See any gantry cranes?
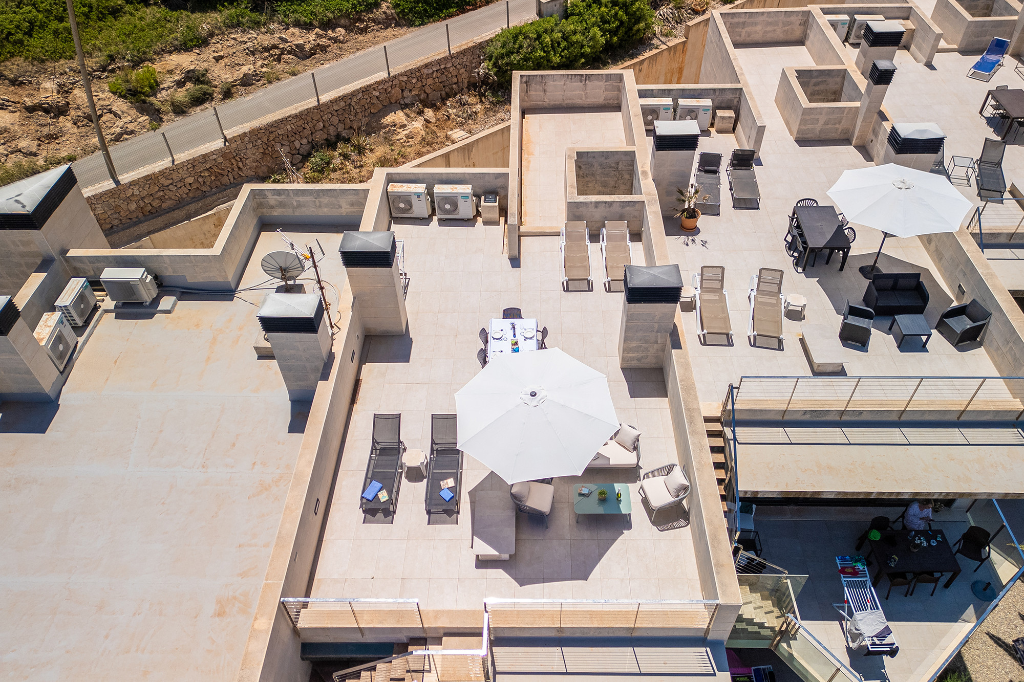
No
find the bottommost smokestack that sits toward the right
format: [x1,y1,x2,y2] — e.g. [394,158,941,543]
[619,260,683,369]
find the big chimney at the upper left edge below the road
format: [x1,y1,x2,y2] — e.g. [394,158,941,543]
[0,163,108,292]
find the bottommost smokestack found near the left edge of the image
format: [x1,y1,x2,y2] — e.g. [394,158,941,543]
[0,297,64,400]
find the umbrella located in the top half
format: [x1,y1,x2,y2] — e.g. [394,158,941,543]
[826,162,973,277]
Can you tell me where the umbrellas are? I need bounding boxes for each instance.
[452,349,623,486]
[826,162,973,277]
